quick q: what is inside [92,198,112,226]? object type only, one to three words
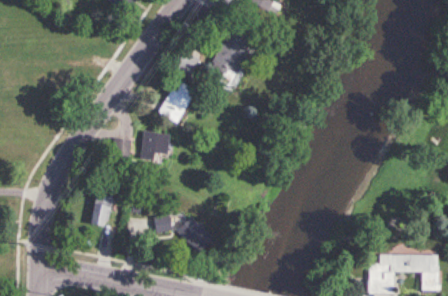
house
